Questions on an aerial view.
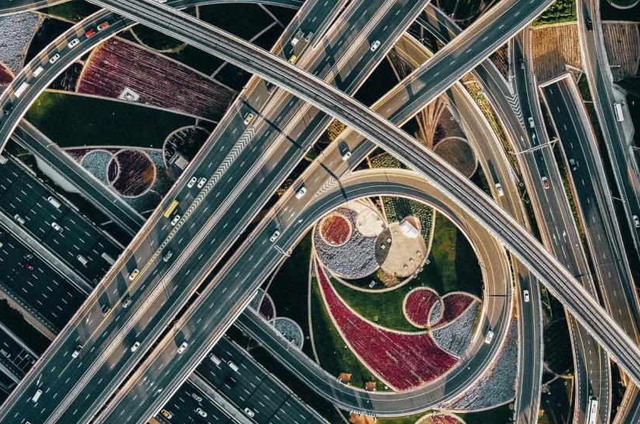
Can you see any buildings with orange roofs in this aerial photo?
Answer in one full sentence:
No, the scene contains no building with an orange roof.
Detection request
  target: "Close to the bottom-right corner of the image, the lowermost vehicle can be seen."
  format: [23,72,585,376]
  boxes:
[587,398,602,424]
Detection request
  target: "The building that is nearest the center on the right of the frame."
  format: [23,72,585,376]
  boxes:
[399,217,426,243]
